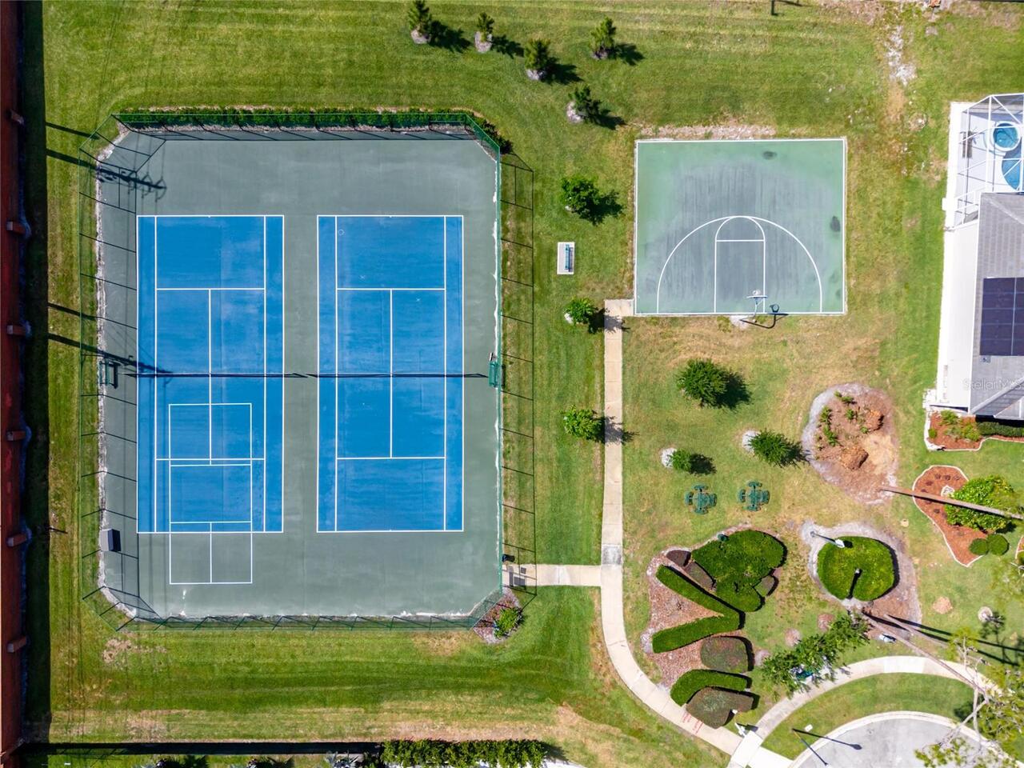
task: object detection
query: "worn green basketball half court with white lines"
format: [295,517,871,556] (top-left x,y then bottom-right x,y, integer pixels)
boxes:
[633,136,848,317]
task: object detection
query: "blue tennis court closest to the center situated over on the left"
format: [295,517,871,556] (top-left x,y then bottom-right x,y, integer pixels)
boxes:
[317,215,463,532]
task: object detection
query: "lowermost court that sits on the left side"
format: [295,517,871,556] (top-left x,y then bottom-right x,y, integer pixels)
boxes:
[168,404,252,584]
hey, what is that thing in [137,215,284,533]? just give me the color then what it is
blue tennis court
